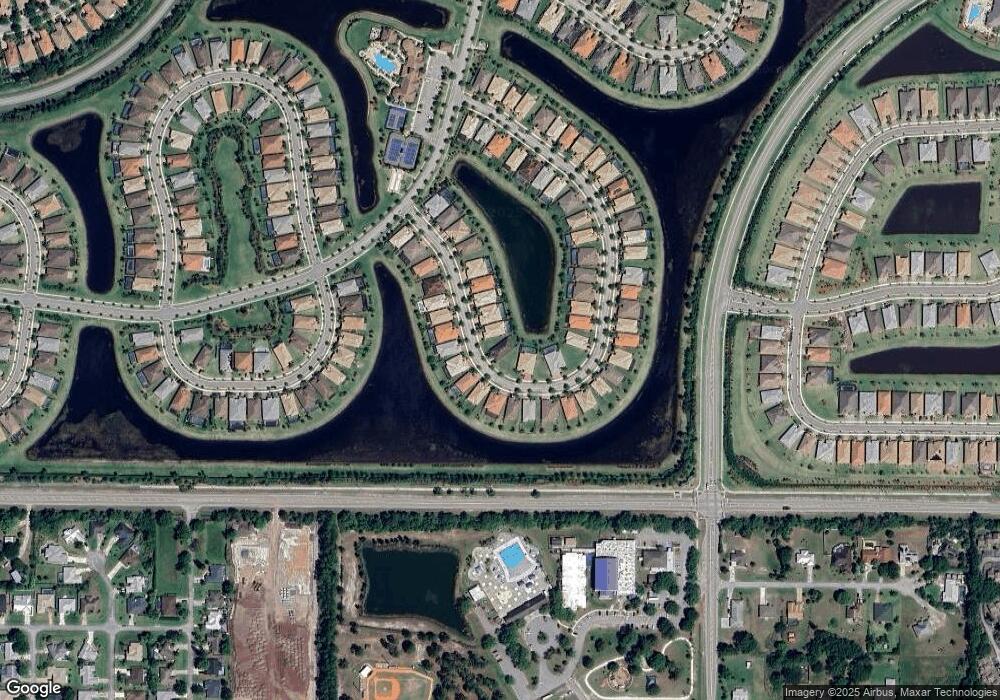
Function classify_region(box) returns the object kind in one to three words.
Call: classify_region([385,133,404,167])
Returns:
tennis court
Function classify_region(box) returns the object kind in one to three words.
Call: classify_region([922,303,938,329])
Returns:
house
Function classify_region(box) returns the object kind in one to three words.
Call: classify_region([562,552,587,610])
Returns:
building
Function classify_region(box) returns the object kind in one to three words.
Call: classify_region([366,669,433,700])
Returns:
baseball field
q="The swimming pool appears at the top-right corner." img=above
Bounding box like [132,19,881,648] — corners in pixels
[962,0,989,32]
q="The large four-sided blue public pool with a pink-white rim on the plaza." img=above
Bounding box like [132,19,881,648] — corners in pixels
[468,532,551,621]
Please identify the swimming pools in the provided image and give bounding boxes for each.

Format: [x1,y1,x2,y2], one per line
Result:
[468,532,551,621]
[962,0,989,32]
[363,41,404,79]
[863,539,876,549]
